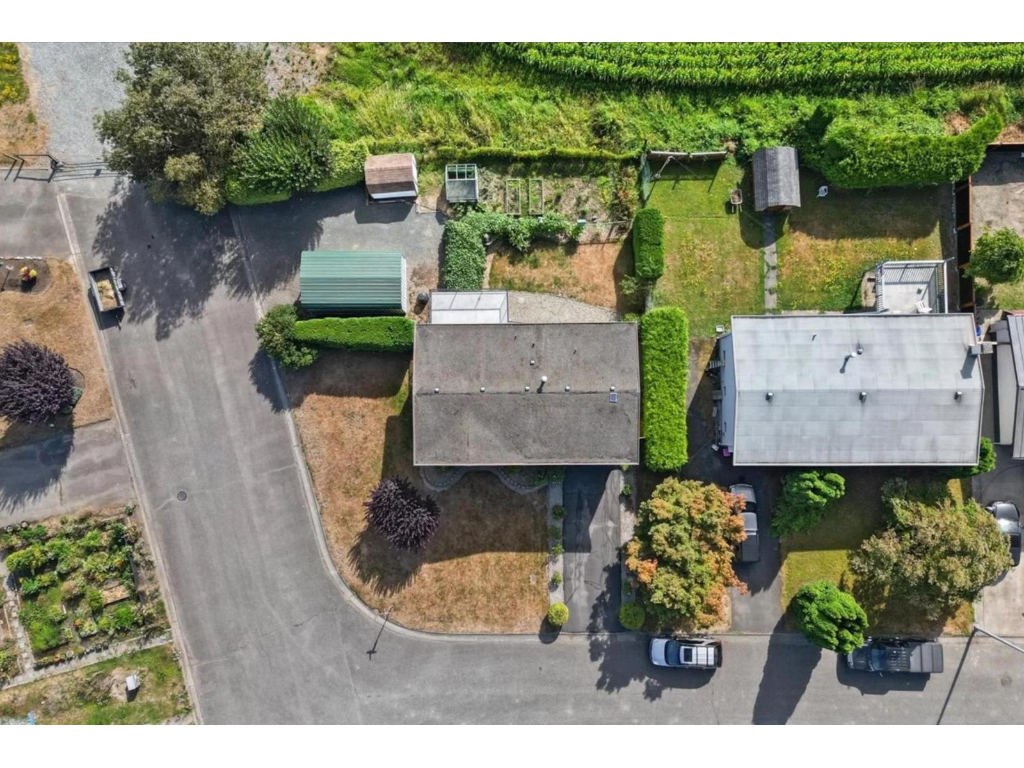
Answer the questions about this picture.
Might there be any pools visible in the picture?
No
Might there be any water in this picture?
No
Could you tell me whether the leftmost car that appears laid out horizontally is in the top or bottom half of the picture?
bottom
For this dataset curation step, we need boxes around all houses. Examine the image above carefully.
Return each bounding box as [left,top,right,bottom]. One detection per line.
[719,312,987,467]
[992,306,1024,459]
[412,321,644,467]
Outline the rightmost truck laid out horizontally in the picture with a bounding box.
[843,639,943,677]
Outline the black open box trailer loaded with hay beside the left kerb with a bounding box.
[89,266,129,328]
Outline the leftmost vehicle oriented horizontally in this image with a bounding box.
[648,635,722,670]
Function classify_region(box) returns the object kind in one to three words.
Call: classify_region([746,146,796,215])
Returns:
shed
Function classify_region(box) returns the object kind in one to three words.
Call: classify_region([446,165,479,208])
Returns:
greenhouse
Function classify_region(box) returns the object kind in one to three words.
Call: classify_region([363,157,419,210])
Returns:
shed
